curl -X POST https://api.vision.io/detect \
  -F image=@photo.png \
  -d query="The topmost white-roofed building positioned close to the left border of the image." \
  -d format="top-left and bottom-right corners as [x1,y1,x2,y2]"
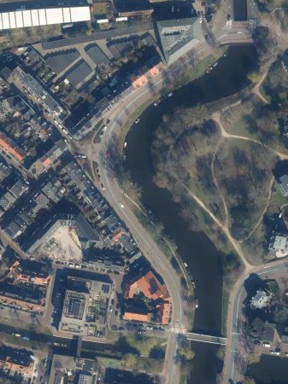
[0,5,92,29]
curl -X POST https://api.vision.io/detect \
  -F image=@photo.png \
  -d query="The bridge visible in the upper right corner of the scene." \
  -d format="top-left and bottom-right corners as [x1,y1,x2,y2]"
[227,20,255,44]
